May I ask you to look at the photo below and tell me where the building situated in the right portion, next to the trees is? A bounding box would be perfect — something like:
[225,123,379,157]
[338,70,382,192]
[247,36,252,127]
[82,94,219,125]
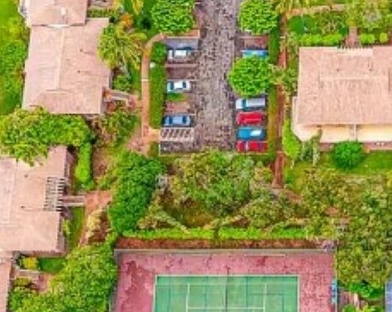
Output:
[290,45,392,152]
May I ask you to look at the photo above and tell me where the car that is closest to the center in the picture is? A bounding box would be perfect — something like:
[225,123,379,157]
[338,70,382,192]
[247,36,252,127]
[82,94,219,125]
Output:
[164,114,193,128]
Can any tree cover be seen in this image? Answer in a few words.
Yes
